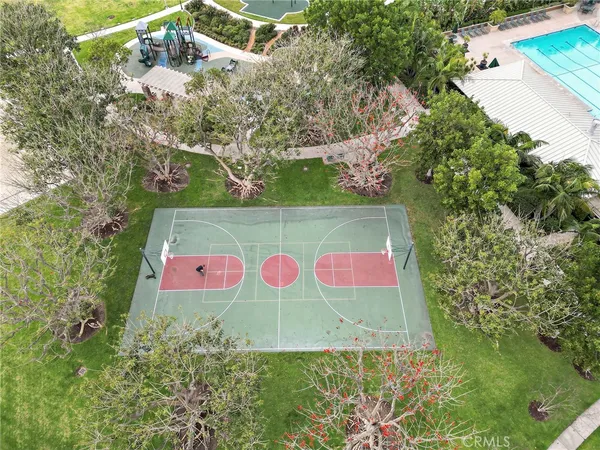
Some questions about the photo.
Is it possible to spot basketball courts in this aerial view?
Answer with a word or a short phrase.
Yes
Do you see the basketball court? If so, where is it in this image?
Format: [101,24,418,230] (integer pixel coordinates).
[117,205,437,356]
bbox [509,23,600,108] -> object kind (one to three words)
swimming pool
